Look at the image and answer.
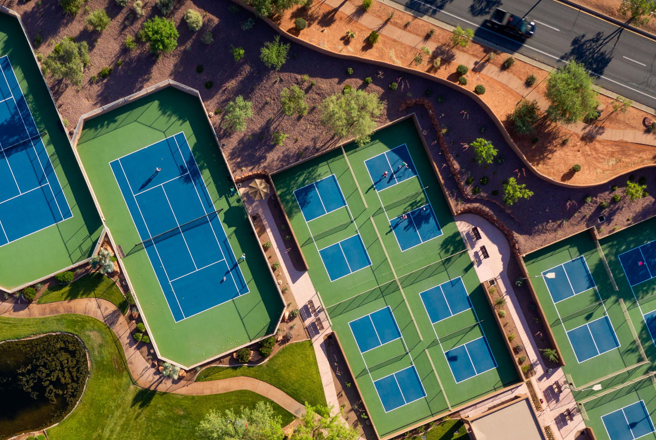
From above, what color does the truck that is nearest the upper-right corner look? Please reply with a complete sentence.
The truck that is nearest the upper-right corner is black.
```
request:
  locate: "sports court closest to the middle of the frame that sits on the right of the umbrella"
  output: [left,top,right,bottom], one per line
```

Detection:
[271,144,396,307]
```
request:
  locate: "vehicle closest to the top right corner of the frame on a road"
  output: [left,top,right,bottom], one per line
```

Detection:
[487,5,538,39]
